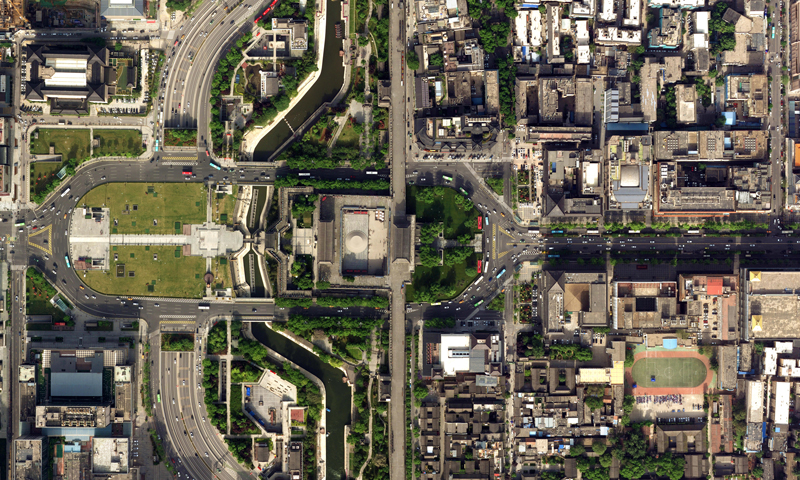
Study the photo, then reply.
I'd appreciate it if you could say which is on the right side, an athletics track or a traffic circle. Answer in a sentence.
The one visible on the right side is an athletics track.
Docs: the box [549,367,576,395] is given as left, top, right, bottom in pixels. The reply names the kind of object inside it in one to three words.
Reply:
house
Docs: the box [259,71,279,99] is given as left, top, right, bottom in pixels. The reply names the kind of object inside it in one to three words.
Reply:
house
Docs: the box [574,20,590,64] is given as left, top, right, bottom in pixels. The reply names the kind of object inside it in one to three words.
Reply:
building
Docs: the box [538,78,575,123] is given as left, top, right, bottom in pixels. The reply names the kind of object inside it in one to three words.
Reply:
building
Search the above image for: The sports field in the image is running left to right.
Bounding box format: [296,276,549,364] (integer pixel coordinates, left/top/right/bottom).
[632,358,707,387]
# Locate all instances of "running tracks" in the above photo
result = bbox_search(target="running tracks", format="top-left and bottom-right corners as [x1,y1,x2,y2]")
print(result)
[626,351,714,396]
